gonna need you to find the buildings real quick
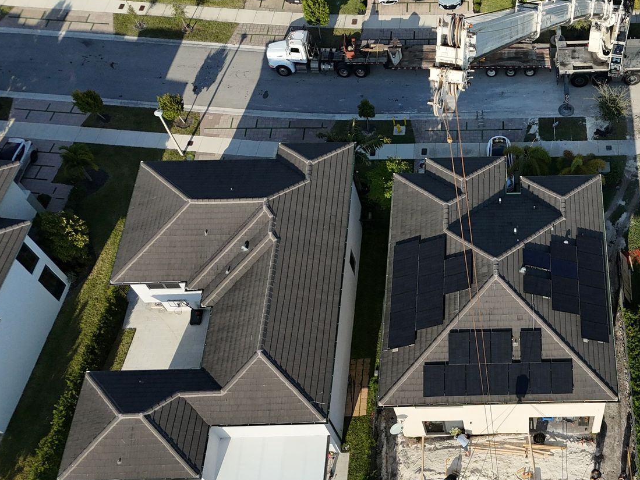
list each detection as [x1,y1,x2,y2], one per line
[0,159,69,427]
[57,142,364,480]
[377,154,620,436]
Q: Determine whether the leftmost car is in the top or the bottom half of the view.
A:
top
